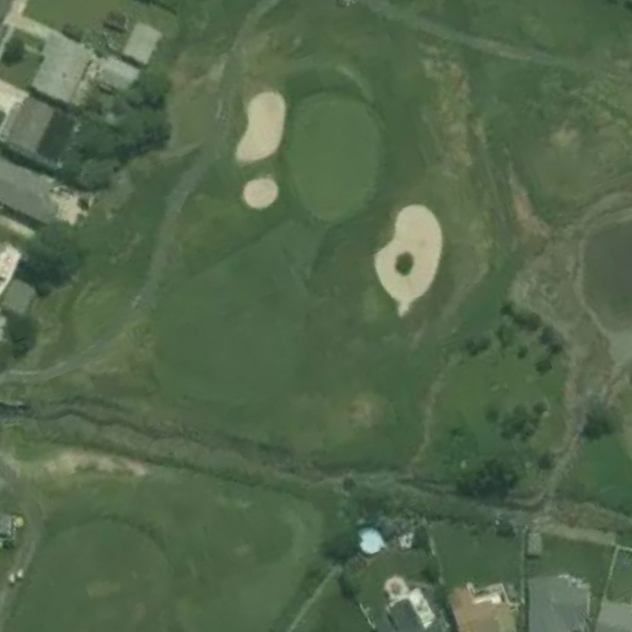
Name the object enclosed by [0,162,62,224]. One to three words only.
house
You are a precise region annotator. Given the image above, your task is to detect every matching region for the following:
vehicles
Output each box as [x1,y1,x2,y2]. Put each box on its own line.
[7,572,14,583]
[16,567,23,578]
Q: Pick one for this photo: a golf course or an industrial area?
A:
golf course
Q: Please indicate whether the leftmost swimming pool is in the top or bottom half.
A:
bottom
